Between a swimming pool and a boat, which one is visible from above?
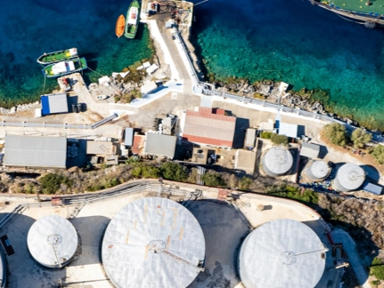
boat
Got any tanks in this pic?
Yes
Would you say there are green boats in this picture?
Yes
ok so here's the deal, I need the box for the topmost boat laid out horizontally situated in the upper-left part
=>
[37,47,79,63]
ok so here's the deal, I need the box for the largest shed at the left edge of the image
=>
[4,136,67,169]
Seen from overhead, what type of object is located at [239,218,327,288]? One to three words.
storage tank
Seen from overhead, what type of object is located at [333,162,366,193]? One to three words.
storage tank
